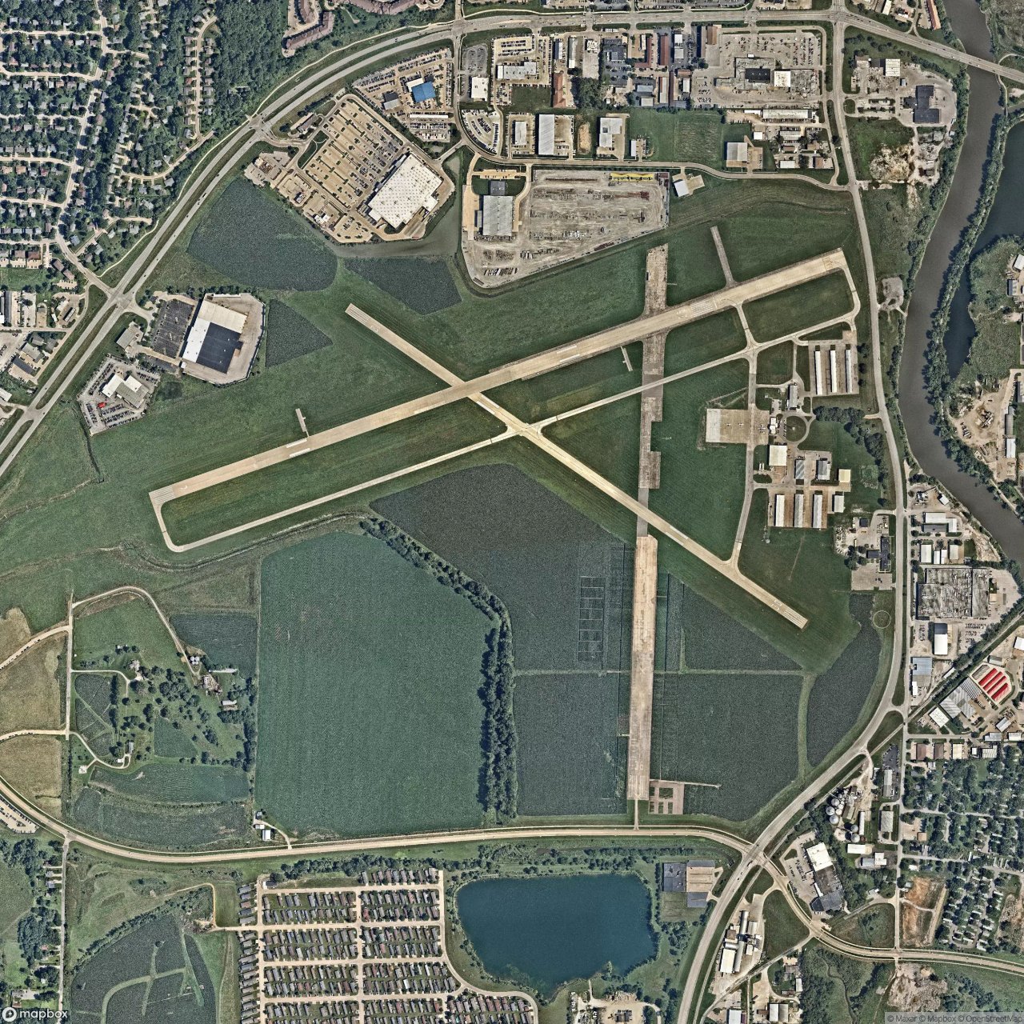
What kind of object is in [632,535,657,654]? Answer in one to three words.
runway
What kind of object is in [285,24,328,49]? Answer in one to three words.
building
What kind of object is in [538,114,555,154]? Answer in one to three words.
house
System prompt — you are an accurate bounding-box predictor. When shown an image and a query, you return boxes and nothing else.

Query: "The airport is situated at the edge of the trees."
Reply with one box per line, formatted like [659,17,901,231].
[149,226,860,801]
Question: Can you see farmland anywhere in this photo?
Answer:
Yes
